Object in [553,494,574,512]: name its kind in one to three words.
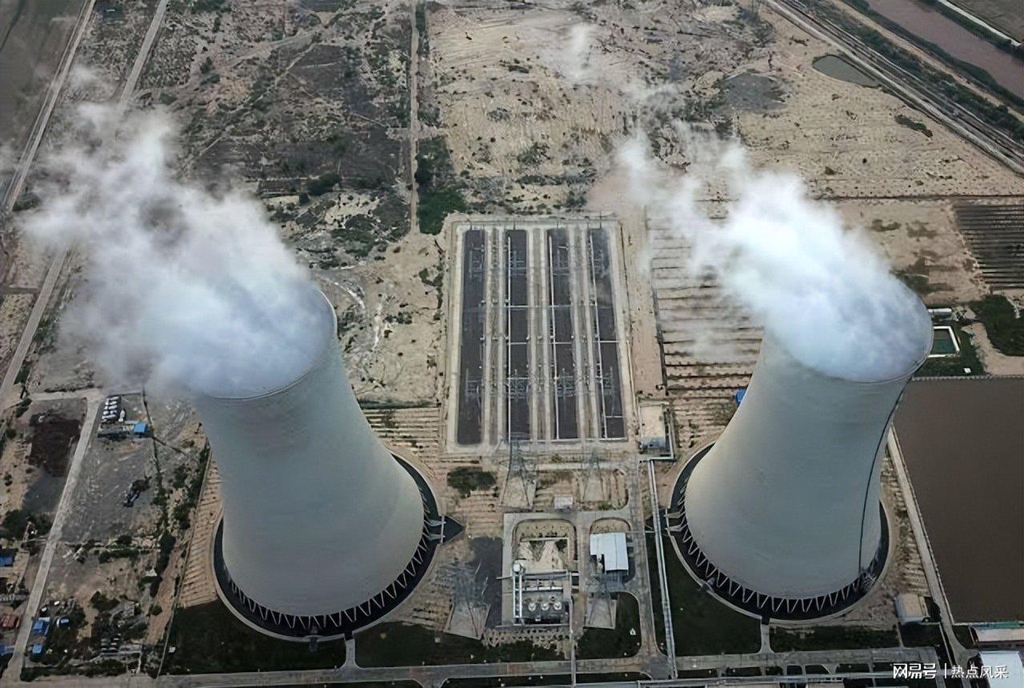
shed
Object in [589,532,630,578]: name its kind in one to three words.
building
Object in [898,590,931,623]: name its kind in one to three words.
building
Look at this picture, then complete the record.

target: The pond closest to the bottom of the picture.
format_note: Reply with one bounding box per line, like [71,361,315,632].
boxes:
[896,379,1024,623]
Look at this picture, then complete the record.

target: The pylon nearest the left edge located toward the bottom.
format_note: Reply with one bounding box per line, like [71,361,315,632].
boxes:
[423,561,501,637]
